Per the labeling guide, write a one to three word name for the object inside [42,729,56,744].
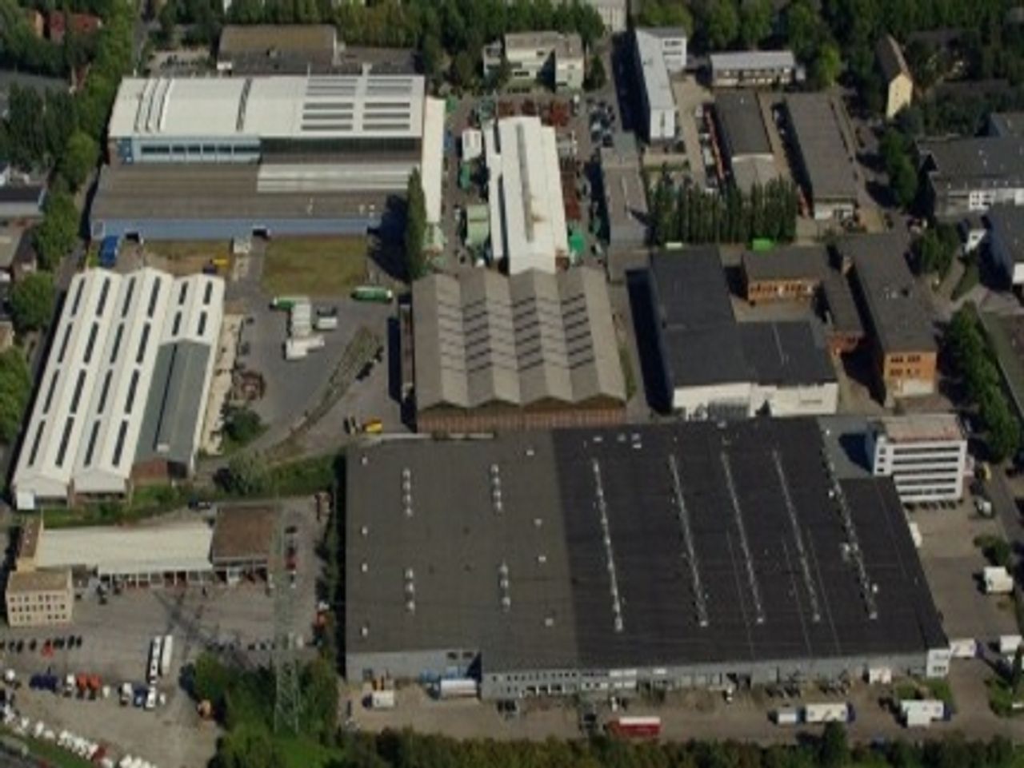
vehicle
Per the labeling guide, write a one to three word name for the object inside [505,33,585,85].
house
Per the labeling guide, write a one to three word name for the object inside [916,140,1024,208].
building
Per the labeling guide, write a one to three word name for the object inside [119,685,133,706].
vehicle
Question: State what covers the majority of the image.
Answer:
buildings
